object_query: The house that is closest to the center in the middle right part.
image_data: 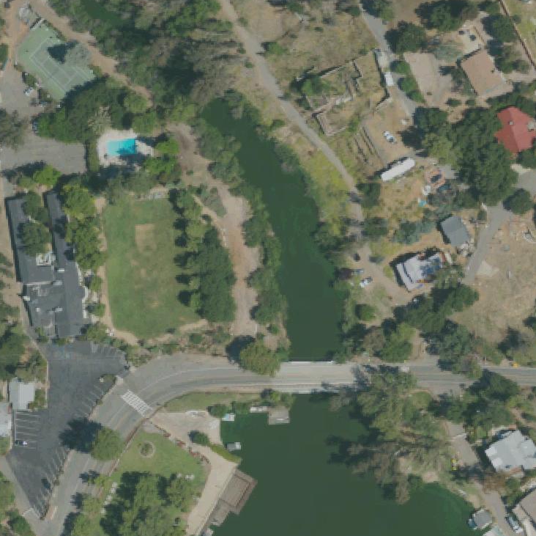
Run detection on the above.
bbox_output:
[397,251,452,291]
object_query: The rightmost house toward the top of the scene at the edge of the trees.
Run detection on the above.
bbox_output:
[496,108,536,151]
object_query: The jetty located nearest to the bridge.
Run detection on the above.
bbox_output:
[269,407,289,424]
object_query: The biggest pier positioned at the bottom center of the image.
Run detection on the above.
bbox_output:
[210,470,257,525]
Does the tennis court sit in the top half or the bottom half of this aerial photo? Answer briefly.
top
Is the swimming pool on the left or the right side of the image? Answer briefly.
left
